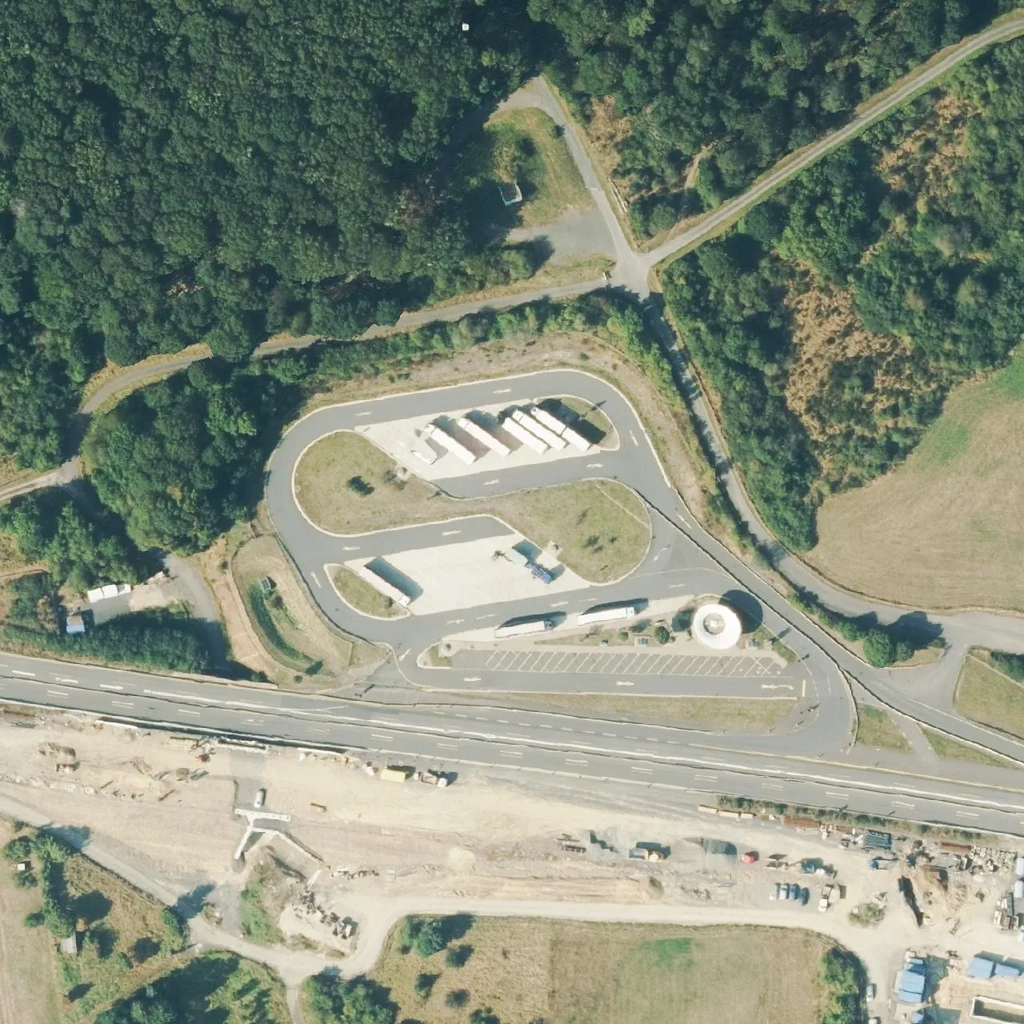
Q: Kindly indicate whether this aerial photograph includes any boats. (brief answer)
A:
No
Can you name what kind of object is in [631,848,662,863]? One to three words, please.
vehicle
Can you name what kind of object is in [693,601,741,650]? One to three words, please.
building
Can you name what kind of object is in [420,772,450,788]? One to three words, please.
vehicle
